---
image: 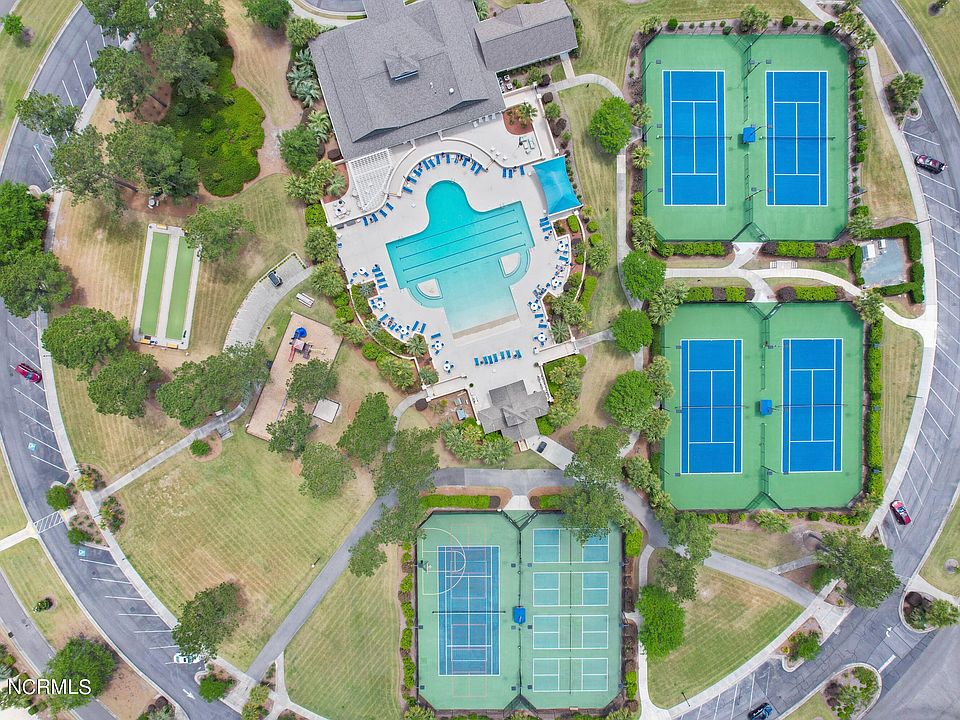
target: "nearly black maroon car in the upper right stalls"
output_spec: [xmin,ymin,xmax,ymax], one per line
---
[915,156,944,175]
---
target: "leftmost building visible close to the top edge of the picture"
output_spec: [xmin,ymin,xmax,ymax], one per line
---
[308,0,578,161]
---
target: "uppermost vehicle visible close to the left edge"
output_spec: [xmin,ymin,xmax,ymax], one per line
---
[17,362,43,383]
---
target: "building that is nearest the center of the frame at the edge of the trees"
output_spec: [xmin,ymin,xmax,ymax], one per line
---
[478,380,549,444]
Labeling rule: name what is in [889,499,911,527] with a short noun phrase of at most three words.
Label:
car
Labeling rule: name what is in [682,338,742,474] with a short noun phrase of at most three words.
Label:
tennis court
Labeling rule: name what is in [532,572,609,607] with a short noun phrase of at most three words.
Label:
sports court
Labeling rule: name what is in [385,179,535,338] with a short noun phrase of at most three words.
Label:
swimming pool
